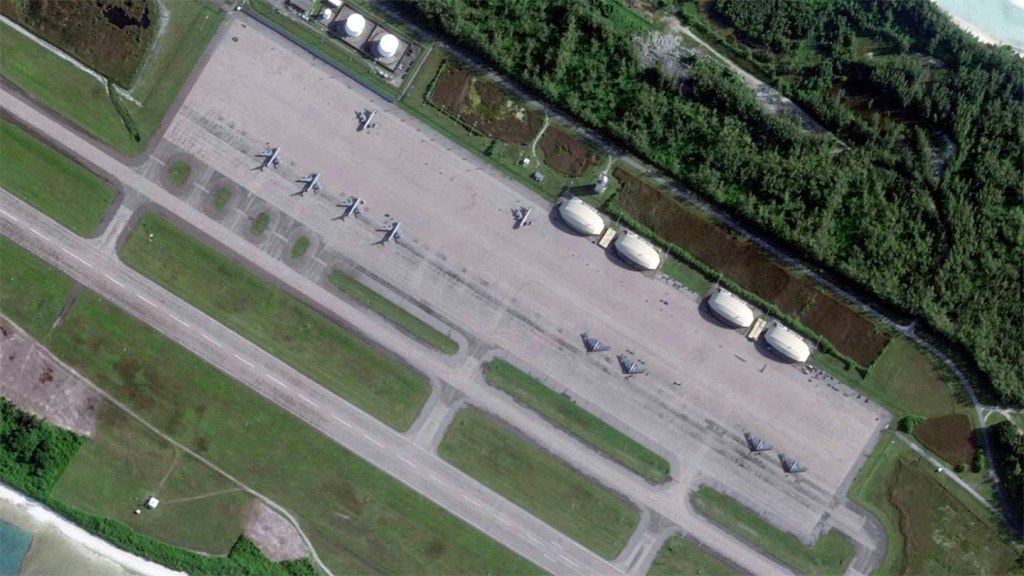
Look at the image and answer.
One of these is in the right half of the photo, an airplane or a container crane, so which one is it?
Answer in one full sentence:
The feature located in the right half of the photo is an airplane.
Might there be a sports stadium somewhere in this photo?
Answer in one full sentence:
No, no sports stadium can be seen from above.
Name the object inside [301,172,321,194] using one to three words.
airplane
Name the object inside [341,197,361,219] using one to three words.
airplane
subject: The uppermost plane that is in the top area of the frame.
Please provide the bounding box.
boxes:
[361,106,382,129]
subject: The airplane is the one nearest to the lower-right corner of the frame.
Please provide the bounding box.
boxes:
[783,452,808,471]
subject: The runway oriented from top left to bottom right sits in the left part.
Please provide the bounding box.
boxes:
[0,188,627,576]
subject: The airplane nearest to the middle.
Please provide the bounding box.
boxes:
[518,204,538,226]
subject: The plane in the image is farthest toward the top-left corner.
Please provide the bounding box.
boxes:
[261,147,281,170]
